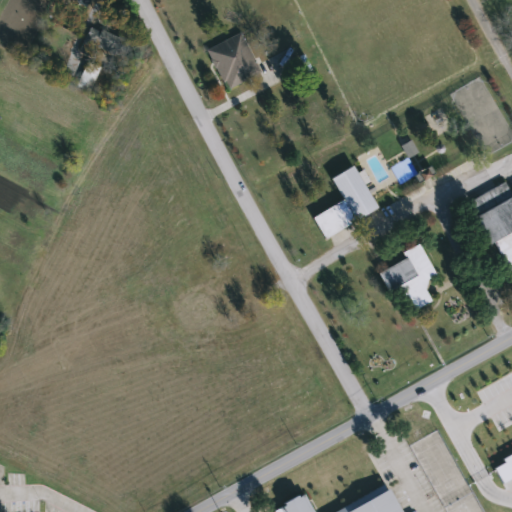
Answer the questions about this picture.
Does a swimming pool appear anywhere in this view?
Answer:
Yes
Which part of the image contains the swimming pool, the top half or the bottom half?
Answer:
top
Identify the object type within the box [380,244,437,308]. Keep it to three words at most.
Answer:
house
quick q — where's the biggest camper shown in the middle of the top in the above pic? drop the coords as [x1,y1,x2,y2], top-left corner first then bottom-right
[278,47,294,66]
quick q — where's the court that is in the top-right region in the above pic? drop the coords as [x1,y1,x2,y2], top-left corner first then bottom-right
[450,76,512,156]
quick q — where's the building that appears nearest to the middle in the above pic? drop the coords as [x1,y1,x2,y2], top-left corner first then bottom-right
[314,166,380,239]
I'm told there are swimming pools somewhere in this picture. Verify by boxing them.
[358,148,394,194]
